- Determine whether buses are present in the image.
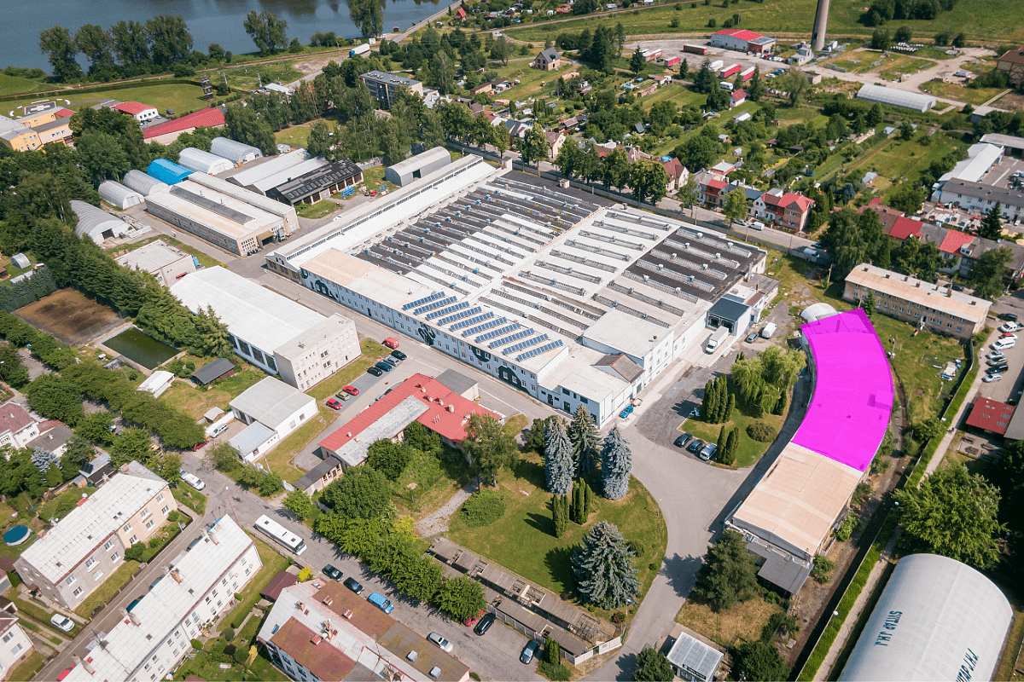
Yes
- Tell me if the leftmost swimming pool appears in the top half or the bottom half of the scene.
bottom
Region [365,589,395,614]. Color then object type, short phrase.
blue vehicle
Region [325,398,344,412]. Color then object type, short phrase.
red car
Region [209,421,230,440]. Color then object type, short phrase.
white car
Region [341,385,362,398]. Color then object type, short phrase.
red vehicle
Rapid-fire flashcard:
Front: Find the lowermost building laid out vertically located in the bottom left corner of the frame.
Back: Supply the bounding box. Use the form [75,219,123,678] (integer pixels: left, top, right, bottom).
[0,602,33,676]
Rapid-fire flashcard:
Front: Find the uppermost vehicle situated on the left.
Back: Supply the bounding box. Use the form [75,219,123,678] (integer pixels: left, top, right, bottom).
[349,40,372,57]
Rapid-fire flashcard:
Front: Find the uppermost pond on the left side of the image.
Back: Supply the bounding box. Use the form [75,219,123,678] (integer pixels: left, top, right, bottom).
[97,324,177,372]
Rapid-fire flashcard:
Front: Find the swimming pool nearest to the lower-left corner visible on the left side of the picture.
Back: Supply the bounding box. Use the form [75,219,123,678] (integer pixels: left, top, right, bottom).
[0,521,31,544]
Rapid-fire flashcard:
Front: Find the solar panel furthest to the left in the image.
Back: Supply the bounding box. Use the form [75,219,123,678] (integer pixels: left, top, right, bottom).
[74,459,102,481]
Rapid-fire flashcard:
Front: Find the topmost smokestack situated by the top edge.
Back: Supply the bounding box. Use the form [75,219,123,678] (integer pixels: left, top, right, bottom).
[809,0,832,51]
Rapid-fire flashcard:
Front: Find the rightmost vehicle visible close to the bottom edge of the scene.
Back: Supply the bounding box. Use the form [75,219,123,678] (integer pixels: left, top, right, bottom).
[518,638,541,667]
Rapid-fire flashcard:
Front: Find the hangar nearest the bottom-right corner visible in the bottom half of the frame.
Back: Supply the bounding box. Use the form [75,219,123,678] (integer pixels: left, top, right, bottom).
[832,550,1015,682]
